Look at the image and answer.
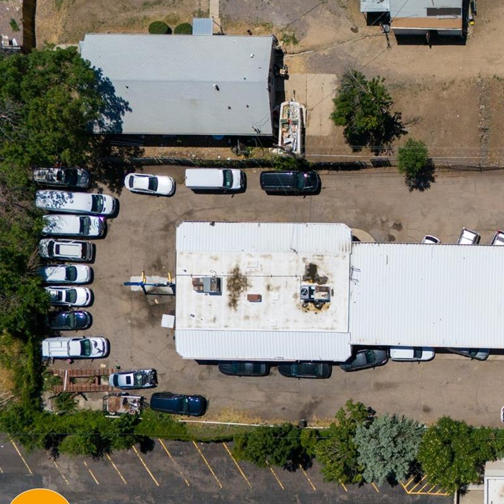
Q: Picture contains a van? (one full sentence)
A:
Yes, there is a van in the image.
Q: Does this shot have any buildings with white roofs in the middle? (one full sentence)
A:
Yes, a building with a white roof is visible in the middle.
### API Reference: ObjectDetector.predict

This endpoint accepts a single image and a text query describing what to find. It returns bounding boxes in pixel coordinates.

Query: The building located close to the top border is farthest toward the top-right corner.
[389,0,463,42]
